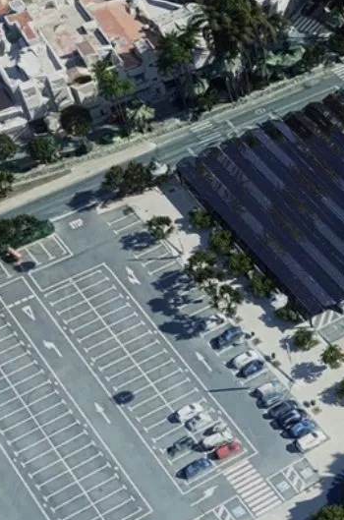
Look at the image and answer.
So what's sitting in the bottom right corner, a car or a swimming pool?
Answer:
car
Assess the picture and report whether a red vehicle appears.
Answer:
Yes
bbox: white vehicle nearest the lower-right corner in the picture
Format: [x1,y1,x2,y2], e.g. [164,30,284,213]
[294,432,327,454]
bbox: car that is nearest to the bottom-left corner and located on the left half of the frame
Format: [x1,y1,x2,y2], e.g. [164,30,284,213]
[111,390,137,407]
